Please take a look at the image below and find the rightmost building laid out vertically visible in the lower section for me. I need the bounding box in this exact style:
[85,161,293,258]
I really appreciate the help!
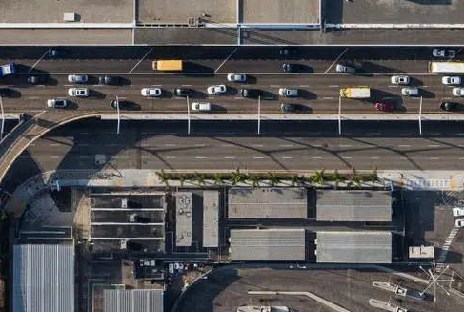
[202,187,219,247]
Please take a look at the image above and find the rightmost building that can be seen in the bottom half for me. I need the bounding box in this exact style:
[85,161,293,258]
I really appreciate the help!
[408,245,435,259]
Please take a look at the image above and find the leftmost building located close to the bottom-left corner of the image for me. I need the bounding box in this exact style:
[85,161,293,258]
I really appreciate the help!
[12,242,76,312]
